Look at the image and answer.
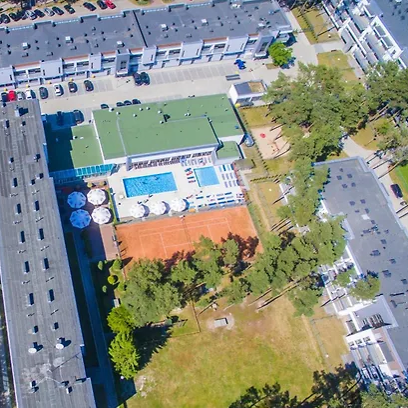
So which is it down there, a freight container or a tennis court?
tennis court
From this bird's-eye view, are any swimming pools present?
Yes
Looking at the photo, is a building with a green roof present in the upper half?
Yes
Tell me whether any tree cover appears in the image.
Yes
